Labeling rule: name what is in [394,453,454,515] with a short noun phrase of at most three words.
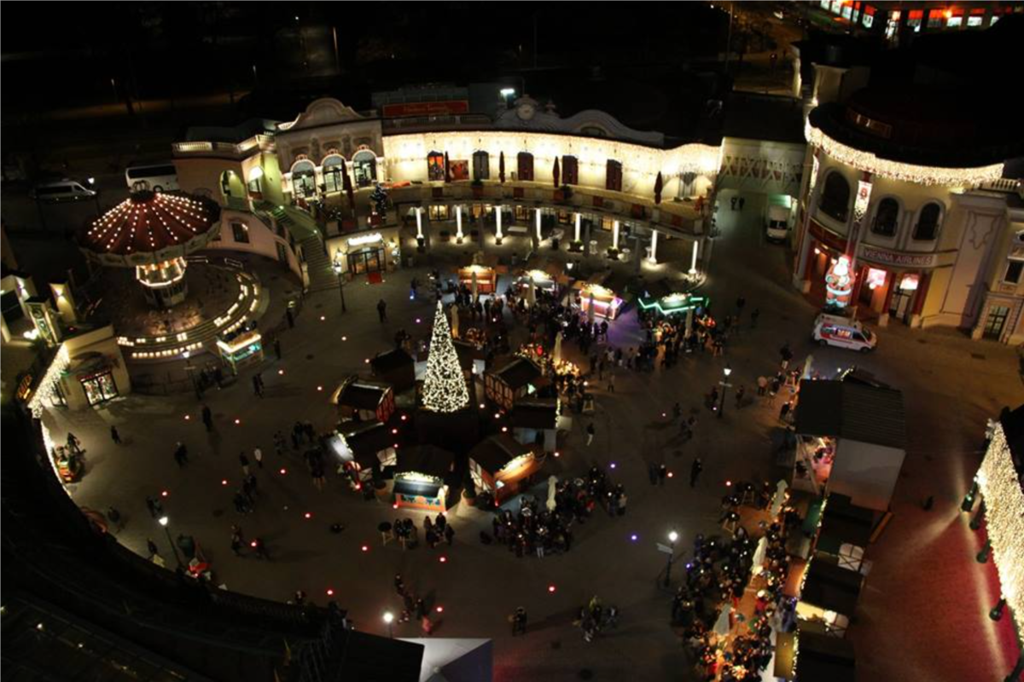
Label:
shed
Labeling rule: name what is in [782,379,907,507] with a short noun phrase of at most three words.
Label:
building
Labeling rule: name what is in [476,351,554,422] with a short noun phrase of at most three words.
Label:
shed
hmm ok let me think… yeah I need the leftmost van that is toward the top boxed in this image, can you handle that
[32,171,104,203]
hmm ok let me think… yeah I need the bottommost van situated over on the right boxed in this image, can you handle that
[812,309,888,354]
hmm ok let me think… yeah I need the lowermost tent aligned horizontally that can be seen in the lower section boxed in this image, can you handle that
[401,640,493,682]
